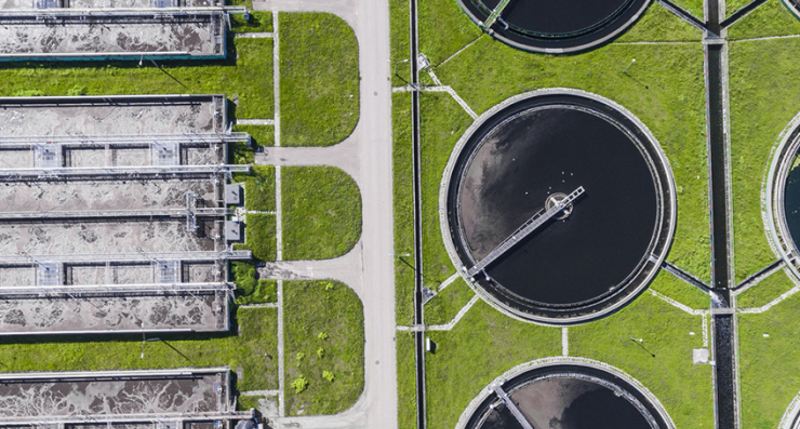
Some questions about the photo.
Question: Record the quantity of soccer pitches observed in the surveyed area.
none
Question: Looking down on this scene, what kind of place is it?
industrial area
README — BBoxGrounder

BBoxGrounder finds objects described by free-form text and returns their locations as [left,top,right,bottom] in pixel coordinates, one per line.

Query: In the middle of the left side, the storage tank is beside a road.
[0,95,254,335]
